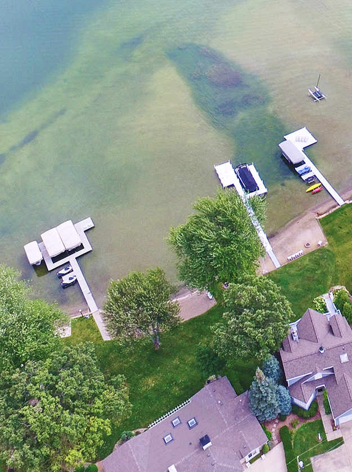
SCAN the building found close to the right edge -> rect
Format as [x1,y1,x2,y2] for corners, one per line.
[279,290,352,422]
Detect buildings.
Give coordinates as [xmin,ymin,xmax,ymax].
[102,376,269,472]
[279,290,352,422]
